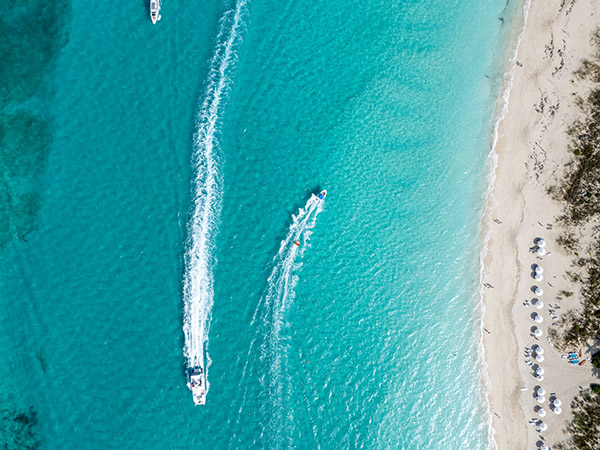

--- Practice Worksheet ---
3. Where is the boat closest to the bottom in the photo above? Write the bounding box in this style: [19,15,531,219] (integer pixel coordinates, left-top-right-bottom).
[190,369,205,408]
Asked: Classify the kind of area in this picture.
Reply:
beach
